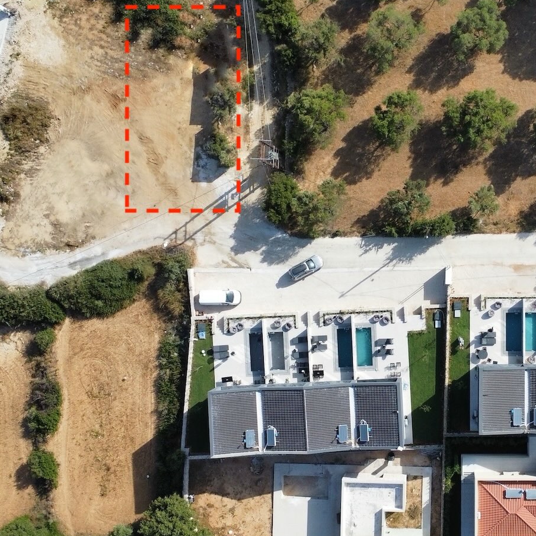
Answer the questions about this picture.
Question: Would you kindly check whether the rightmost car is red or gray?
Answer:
gray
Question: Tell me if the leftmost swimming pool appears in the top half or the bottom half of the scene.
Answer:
bottom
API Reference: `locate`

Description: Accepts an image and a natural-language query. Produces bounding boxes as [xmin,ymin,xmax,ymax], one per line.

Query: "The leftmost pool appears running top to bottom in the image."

[243,326,267,377]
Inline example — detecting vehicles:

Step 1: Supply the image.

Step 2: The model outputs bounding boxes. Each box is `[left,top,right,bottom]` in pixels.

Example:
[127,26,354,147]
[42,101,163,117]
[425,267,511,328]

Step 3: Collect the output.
[285,255,323,282]
[199,288,241,307]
